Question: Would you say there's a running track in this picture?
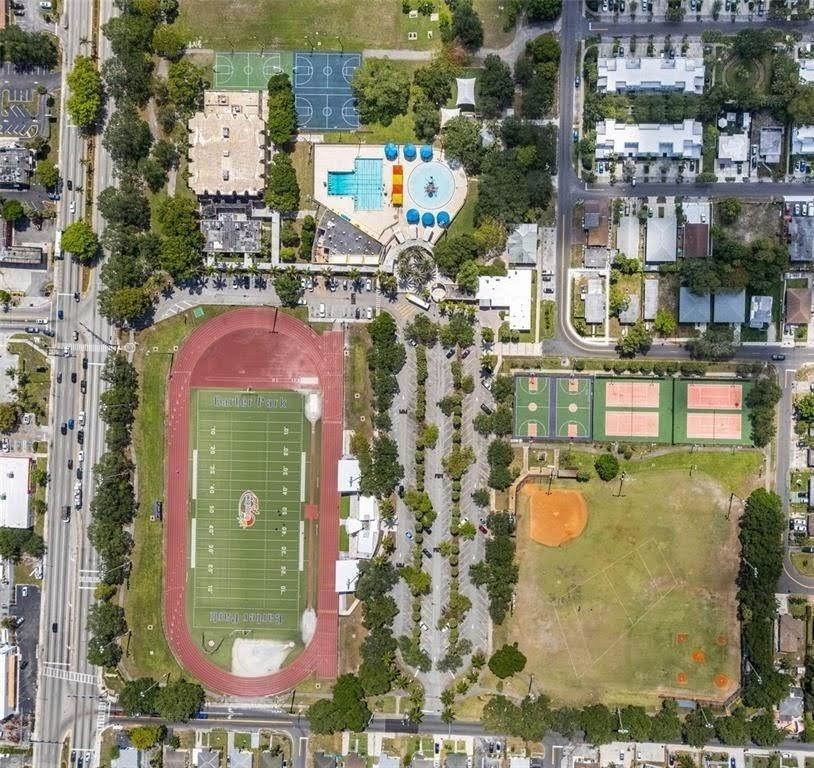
Yes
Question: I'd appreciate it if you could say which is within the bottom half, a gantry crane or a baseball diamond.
baseball diamond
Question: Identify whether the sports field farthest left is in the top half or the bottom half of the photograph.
bottom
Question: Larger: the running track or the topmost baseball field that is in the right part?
the running track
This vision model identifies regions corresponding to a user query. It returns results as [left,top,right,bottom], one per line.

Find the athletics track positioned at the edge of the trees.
[163,307,342,697]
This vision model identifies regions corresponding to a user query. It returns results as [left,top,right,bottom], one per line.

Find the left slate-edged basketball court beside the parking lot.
[514,374,553,441]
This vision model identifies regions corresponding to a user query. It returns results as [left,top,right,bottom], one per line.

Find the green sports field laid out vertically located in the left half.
[184,390,322,677]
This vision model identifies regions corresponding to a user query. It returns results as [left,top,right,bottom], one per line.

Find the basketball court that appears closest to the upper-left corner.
[211,51,293,90]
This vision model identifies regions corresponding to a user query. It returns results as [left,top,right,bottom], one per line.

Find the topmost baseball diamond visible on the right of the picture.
[519,483,589,548]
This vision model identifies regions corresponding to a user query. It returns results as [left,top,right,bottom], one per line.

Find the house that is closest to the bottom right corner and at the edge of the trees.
[777,693,803,716]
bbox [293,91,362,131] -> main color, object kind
blue basketball court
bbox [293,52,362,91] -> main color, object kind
blue basketball court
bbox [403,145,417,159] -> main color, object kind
blue umbrella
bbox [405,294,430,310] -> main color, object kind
white vehicle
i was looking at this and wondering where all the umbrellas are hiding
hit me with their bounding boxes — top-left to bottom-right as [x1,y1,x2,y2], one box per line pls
[421,212,435,226]
[436,212,451,226]
[421,146,434,160]
[385,144,398,158]
[403,145,417,159]
[407,210,420,223]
